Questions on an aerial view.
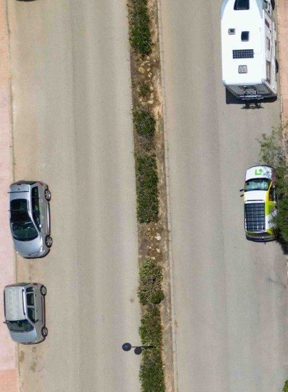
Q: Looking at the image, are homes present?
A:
No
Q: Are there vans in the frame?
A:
Yes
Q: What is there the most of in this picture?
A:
paved ground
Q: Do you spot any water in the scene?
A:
No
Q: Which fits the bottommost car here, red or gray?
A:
gray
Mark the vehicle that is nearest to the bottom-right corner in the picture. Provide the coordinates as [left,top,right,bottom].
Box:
[241,167,280,242]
